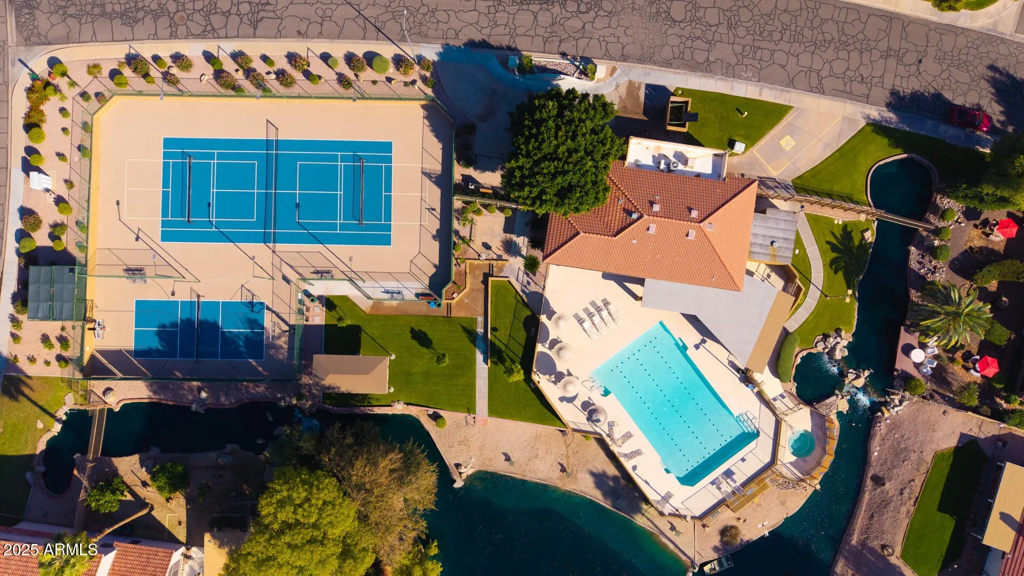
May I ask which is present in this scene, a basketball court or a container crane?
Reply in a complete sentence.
Visible in the photo is a basketball court.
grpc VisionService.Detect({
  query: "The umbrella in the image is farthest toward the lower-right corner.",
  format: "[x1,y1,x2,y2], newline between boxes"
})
[970,356,997,377]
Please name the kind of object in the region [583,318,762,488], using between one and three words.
swimming pool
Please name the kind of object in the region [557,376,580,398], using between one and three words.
umbrella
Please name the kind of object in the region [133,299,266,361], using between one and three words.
sports court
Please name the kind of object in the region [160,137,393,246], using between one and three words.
tennis court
